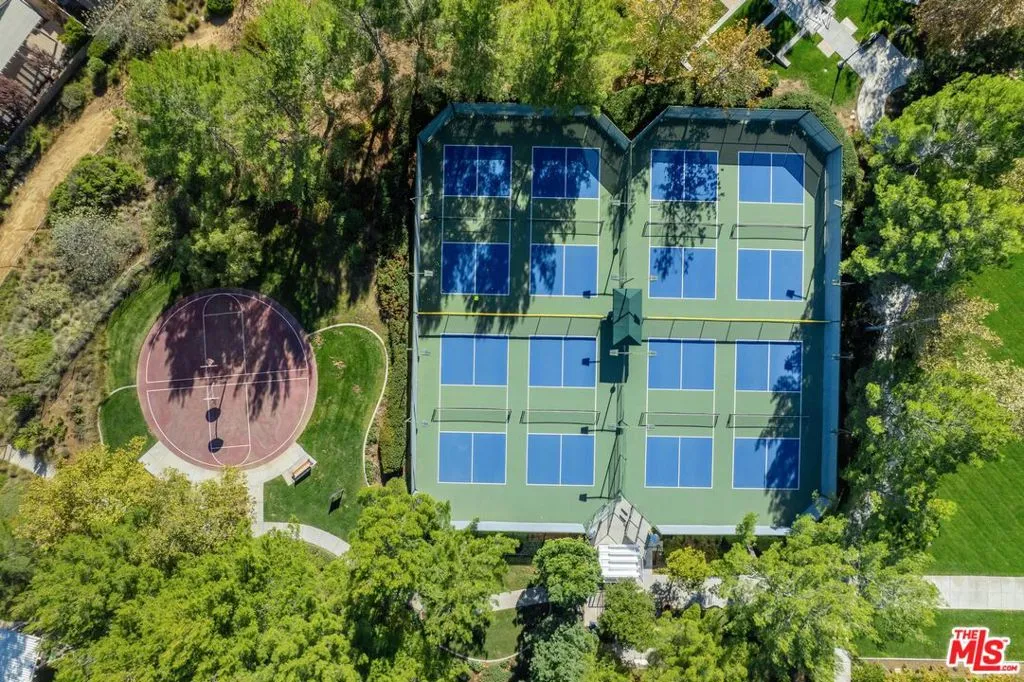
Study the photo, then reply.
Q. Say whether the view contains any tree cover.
Yes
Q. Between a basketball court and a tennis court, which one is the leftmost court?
basketball court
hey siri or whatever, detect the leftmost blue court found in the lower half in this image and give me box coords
[437,334,509,485]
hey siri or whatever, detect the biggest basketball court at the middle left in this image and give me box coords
[137,288,318,470]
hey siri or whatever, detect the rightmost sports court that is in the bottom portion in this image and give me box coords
[732,339,803,490]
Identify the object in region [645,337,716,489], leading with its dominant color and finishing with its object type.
blue sports court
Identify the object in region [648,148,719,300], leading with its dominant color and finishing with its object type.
blue sports court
